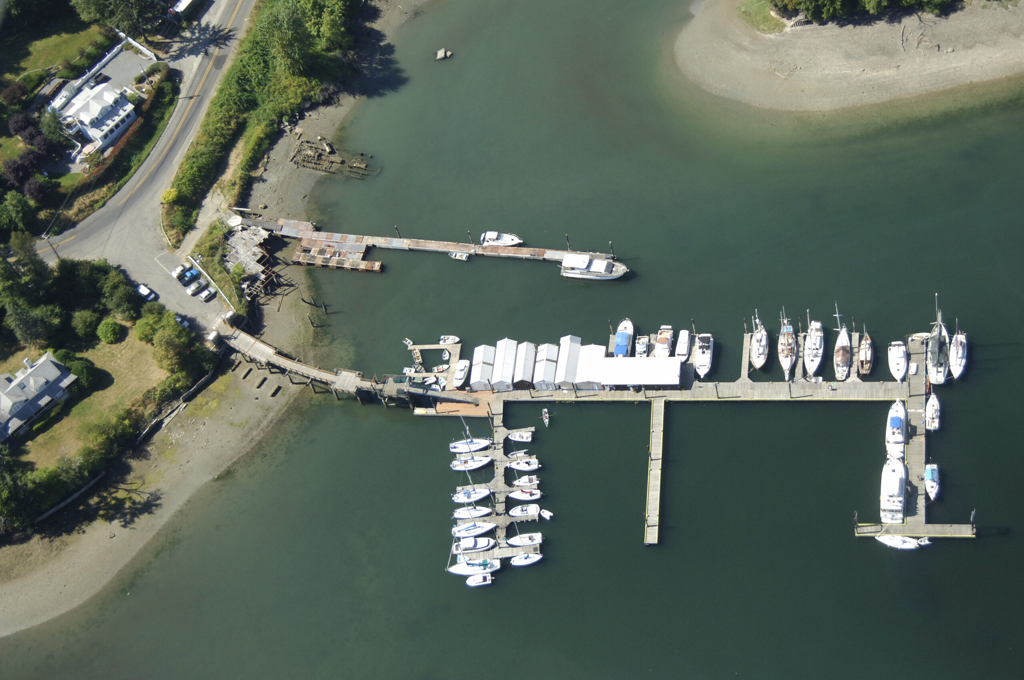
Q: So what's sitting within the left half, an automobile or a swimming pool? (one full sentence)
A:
Visible within the left half is an automobile.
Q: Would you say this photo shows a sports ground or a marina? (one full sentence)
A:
The area seen from above is a marina.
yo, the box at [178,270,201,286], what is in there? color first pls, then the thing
blue vehicle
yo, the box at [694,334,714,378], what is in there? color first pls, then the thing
white boat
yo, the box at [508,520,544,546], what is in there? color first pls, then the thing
white boat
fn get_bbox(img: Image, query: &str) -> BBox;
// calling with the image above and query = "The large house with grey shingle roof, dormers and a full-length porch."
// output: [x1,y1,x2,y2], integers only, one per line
[0,350,80,448]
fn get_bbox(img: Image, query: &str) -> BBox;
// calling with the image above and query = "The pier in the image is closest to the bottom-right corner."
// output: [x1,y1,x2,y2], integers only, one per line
[855,524,975,538]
